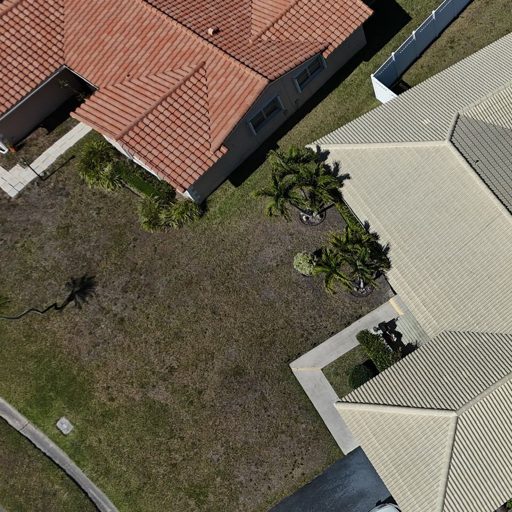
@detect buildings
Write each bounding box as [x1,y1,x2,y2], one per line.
[0,0,375,205]
[307,32,512,512]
